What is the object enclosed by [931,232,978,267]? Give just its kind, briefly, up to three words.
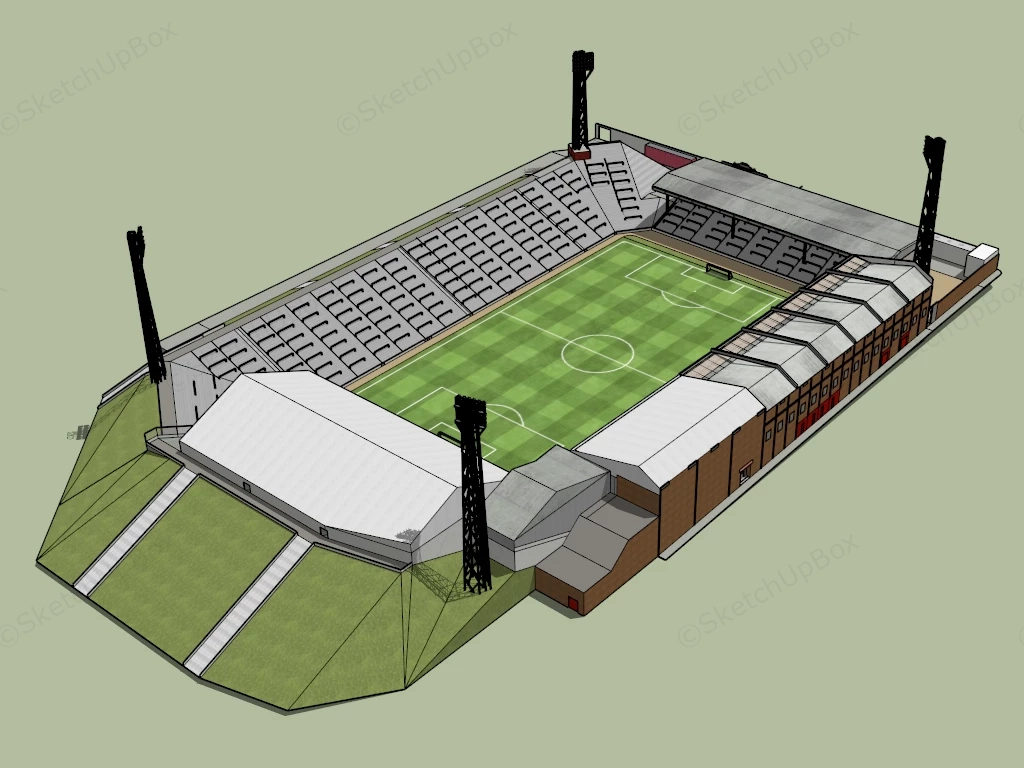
building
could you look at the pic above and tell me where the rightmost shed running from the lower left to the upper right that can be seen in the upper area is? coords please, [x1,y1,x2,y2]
[964,244,999,278]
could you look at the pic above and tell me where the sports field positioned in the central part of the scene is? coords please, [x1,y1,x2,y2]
[353,237,787,471]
